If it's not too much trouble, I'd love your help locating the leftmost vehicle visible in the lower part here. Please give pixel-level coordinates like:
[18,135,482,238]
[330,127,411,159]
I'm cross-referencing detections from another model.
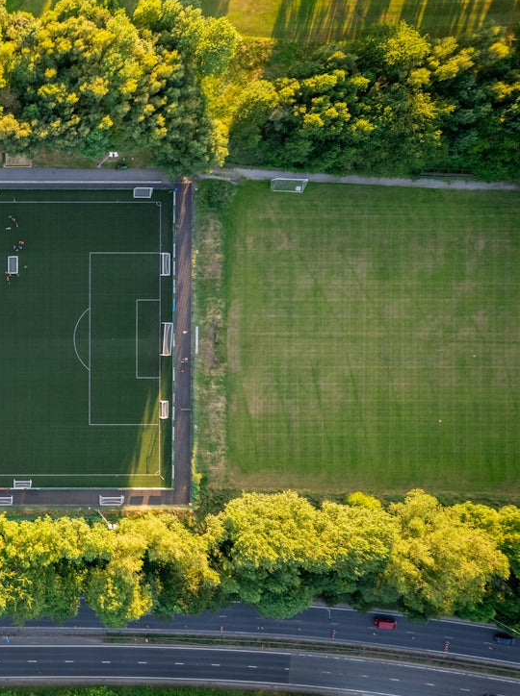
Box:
[376,619,397,632]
